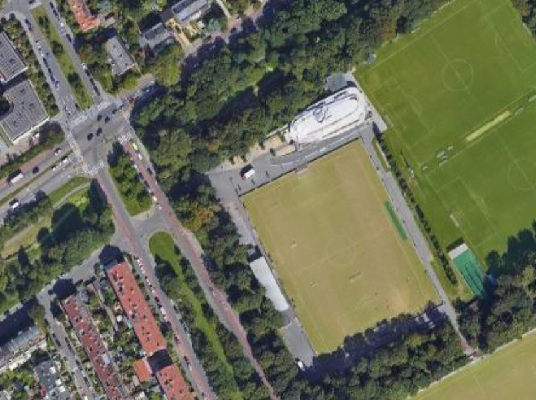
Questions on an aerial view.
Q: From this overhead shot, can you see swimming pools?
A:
No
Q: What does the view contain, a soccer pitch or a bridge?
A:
soccer pitch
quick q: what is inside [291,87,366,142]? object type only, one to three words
building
